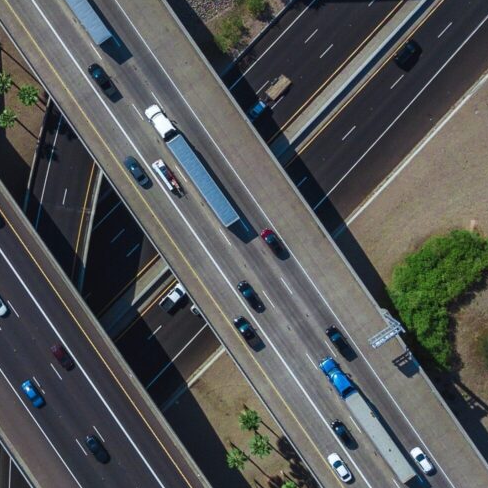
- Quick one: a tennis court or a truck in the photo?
truck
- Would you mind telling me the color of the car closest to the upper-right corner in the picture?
black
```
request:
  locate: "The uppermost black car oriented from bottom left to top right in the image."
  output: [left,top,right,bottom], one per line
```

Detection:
[394,41,420,68]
